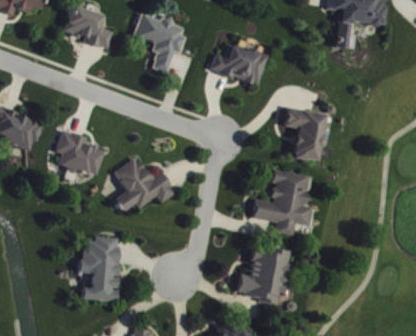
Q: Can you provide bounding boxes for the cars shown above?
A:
[219,79,224,90]
[74,120,79,130]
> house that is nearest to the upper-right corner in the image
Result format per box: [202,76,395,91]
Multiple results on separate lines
[322,0,390,48]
